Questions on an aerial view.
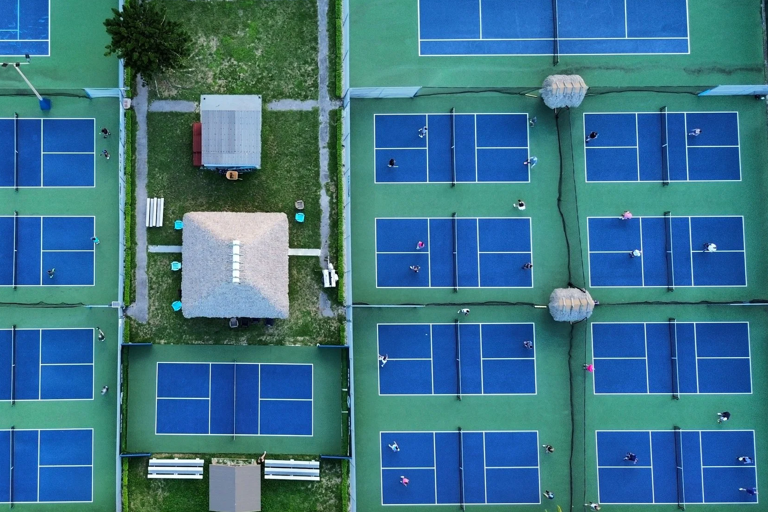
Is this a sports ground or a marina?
sports ground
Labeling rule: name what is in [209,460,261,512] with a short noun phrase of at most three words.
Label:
building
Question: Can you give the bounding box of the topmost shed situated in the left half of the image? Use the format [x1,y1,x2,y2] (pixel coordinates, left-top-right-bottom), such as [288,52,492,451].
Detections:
[200,95,262,172]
